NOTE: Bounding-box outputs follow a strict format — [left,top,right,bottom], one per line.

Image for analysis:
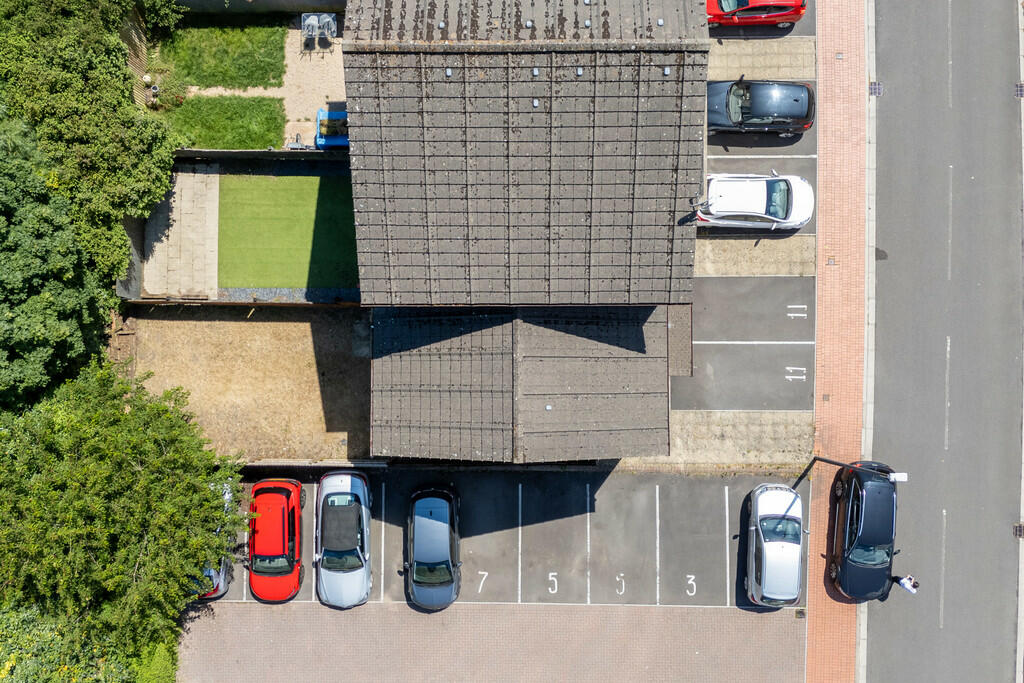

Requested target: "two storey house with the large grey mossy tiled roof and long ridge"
[344,0,713,304]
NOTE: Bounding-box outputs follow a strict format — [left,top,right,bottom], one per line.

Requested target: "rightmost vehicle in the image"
[831,459,903,601]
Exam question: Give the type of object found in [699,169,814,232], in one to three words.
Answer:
car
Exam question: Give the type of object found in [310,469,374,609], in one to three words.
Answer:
car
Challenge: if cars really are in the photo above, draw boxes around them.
[310,469,374,609]
[747,482,811,607]
[244,477,306,603]
[831,459,903,601]
[708,0,808,27]
[403,485,466,612]
[699,169,814,232]
[706,71,816,135]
